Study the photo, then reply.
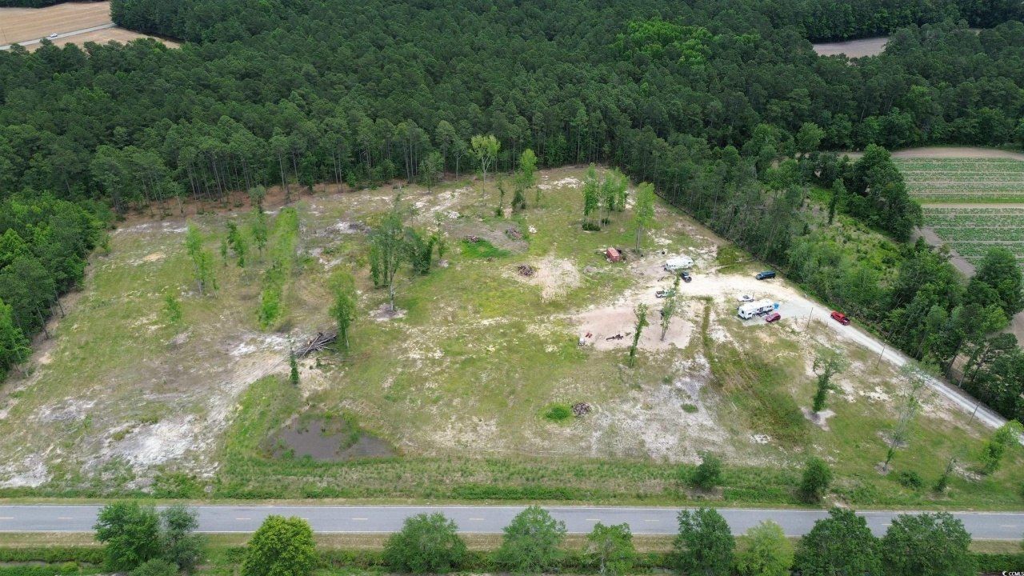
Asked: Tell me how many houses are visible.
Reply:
zero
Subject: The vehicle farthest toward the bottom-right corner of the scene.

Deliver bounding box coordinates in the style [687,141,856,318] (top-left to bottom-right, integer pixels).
[831,313,853,326]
